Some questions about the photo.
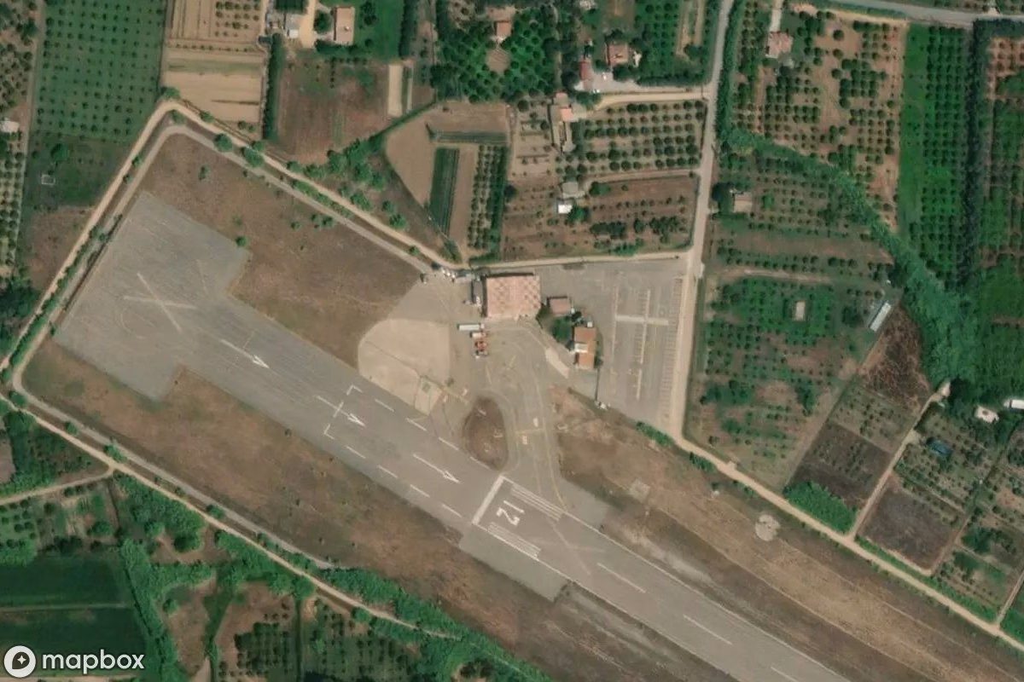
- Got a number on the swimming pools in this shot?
0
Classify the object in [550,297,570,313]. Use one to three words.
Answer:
house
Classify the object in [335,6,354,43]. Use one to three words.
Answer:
house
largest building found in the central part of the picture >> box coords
[486,276,540,322]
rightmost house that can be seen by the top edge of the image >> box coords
[768,32,792,58]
